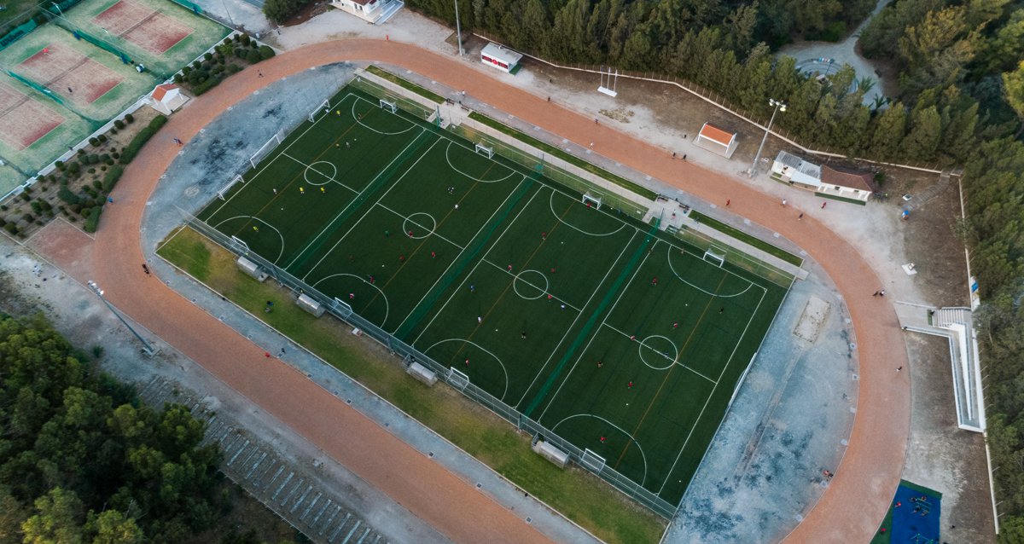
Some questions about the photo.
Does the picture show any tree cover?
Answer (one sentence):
Yes, some tree cover is visible.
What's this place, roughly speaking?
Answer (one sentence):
This looks like a sports ground.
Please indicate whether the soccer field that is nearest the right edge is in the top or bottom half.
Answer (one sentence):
The soccer field that is nearest the right edge sits in the bottom half of the picture.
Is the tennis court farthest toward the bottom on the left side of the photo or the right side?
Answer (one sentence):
It is on the left.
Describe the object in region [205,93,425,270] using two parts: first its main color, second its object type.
green soccer field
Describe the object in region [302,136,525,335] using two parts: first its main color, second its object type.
green soccer field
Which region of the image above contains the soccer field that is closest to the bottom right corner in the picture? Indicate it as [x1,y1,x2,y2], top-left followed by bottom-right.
[538,239,765,495]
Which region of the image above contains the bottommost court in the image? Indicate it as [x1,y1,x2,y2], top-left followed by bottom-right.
[0,159,27,196]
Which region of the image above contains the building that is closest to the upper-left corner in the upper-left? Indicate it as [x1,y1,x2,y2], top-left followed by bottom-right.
[147,81,190,116]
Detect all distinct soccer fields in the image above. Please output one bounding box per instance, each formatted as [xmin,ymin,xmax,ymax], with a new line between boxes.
[412,184,638,409]
[538,239,765,495]
[205,93,425,270]
[302,136,525,335]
